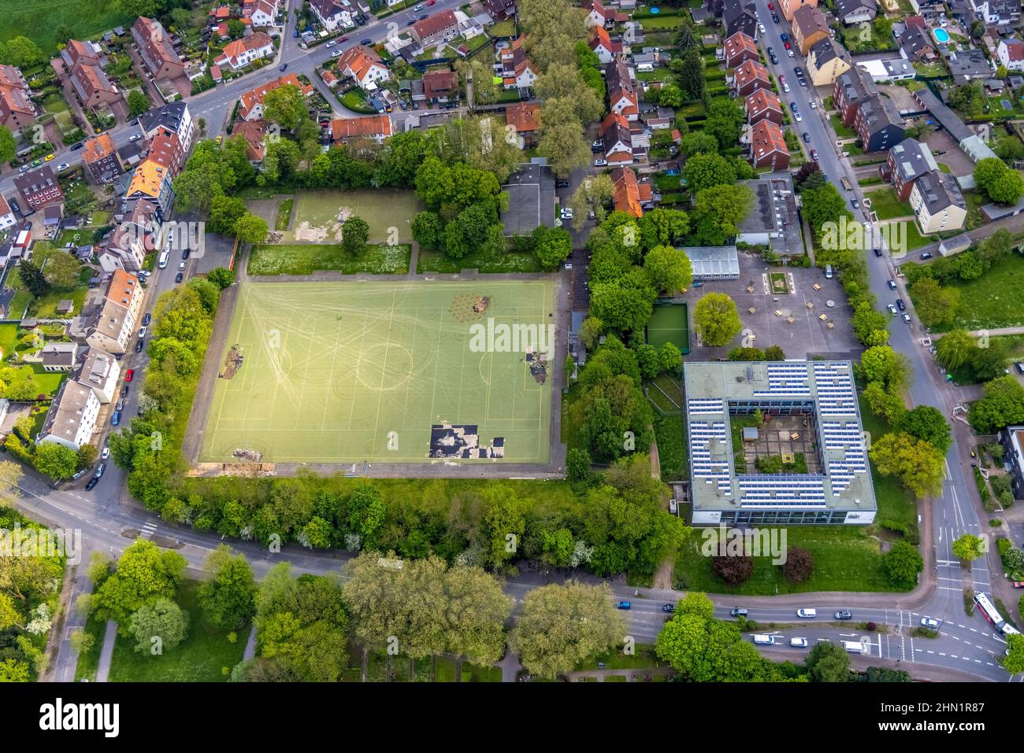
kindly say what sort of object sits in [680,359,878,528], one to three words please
building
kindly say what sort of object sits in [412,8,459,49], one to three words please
house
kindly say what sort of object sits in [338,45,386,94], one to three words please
house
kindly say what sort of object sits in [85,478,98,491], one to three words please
vehicle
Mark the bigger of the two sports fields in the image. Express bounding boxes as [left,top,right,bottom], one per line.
[198,206,555,465]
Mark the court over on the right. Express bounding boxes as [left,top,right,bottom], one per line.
[646,300,692,352]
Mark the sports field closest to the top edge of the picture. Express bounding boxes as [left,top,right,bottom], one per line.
[288,190,429,242]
